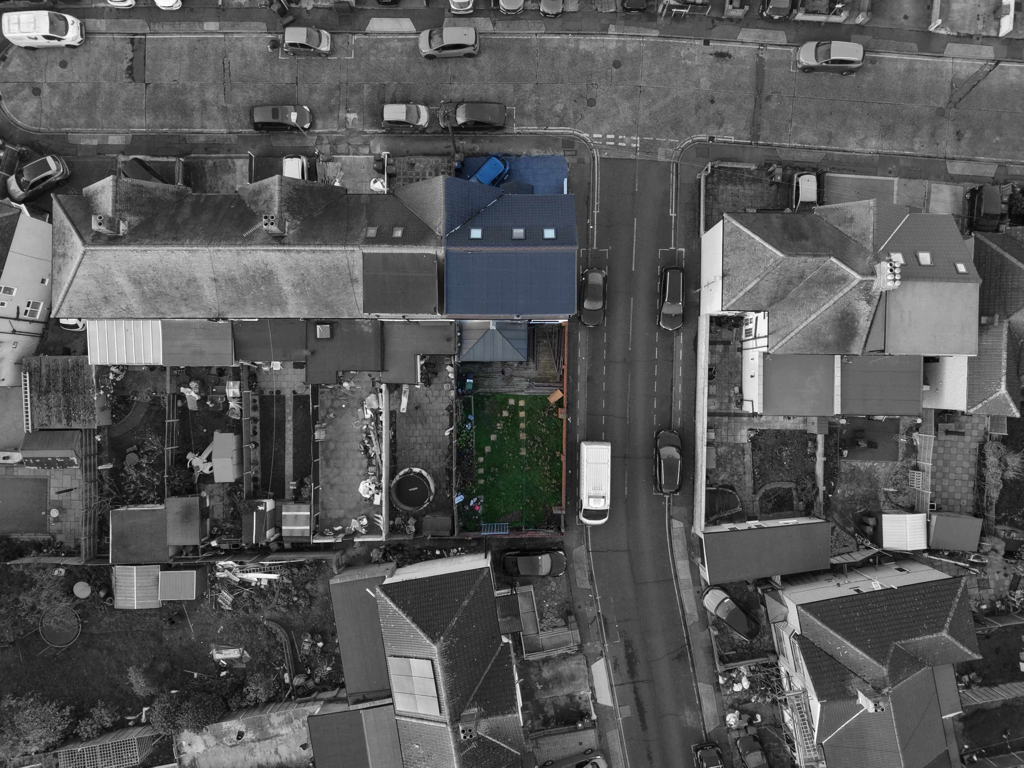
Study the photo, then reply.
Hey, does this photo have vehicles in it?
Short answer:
Yes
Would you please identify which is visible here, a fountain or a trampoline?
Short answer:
trampoline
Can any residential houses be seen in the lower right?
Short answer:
Yes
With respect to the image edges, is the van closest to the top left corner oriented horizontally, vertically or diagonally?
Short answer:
horizontally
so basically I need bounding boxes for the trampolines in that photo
[38,602,84,648]
[387,468,435,516]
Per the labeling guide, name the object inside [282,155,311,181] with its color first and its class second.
white car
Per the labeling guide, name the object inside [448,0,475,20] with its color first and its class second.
gray car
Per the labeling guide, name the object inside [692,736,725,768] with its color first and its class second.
black car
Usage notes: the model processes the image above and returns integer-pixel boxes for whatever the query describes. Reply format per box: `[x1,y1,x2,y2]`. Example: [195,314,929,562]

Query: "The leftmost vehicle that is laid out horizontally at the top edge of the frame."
[2,10,90,51]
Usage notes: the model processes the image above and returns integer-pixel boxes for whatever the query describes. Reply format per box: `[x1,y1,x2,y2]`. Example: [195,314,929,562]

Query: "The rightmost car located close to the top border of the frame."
[795,38,865,77]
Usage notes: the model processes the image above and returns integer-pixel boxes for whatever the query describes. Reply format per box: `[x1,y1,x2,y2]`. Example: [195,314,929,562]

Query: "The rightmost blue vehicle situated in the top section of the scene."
[460,149,512,186]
